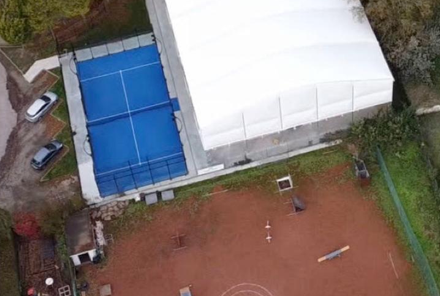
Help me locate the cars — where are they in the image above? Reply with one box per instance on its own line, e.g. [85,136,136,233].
[21,87,59,120]
[23,137,64,170]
